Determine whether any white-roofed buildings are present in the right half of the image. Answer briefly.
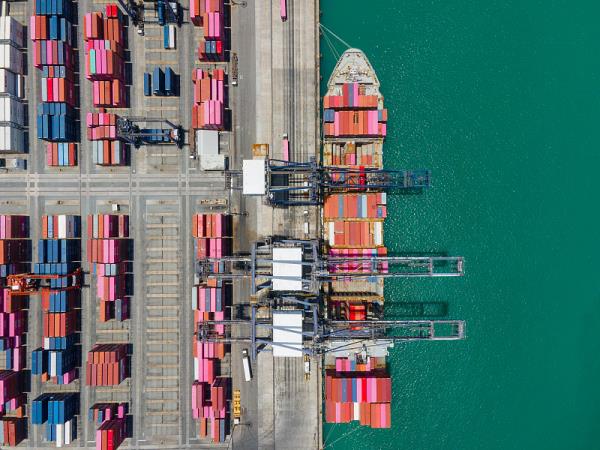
No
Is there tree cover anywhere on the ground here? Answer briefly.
No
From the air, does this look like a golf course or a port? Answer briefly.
port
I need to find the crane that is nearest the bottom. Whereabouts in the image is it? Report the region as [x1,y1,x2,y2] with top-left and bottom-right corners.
[197,284,465,360]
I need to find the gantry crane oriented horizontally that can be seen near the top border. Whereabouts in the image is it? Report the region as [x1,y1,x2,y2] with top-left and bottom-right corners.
[118,0,184,26]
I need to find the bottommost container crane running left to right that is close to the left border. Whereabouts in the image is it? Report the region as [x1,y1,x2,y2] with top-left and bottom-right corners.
[2,266,84,294]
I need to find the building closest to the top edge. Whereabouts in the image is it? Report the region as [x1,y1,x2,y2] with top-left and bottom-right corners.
[197,130,220,155]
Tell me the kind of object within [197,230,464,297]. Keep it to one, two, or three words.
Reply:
container crane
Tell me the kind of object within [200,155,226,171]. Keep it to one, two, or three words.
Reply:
building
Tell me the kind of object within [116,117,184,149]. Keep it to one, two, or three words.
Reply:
container crane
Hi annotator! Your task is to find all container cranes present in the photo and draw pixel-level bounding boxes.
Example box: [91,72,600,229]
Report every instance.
[224,157,430,213]
[116,117,184,149]
[2,266,84,294]
[197,230,464,297]
[118,0,184,26]
[197,284,465,360]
